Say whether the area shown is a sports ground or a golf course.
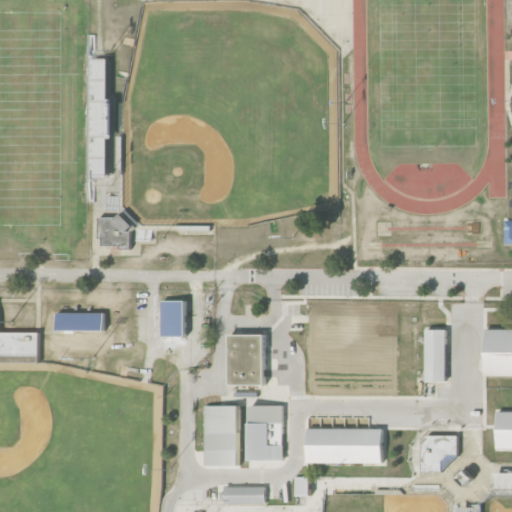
sports ground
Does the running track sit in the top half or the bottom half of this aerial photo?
top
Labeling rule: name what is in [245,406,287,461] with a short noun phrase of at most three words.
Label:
building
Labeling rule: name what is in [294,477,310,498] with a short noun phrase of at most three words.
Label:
shed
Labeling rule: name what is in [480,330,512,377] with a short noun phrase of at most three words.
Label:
building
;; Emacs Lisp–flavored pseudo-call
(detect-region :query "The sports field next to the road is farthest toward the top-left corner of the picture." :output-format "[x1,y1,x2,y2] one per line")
[0,0,87,251]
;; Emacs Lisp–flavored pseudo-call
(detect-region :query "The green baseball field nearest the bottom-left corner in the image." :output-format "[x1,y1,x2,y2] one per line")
[0,363,162,512]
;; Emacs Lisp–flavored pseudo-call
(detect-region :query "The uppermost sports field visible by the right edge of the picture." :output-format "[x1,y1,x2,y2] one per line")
[367,0,488,200]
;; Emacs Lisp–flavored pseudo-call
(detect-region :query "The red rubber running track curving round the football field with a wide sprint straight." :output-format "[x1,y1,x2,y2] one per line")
[353,0,506,214]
